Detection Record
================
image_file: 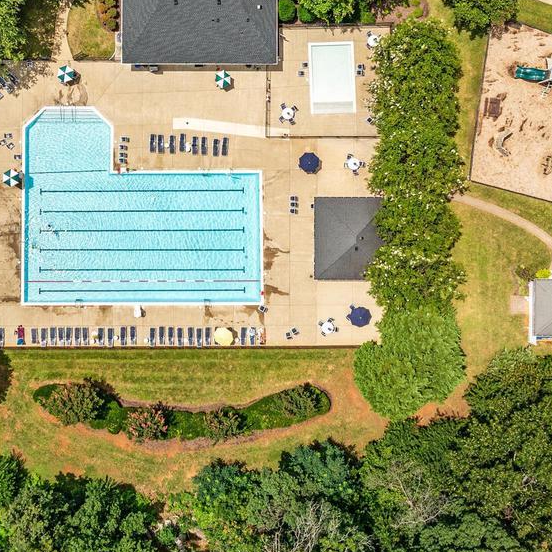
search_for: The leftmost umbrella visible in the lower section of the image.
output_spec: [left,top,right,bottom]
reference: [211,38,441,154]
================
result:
[213,326,233,347]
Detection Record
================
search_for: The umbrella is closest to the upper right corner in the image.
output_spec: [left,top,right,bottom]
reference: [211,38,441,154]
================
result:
[298,152,319,173]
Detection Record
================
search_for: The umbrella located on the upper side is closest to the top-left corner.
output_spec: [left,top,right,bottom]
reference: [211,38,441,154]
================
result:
[57,66,77,84]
